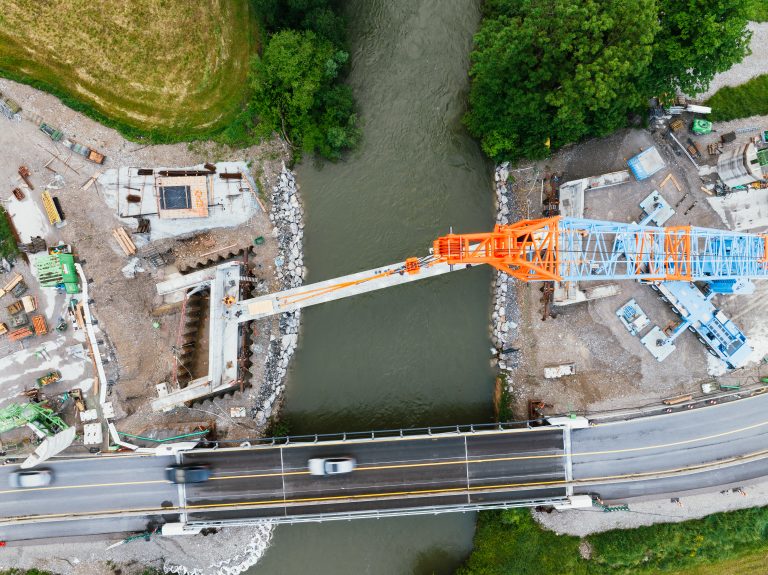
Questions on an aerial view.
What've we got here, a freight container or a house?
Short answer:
freight container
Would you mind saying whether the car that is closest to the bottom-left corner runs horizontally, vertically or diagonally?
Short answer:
horizontally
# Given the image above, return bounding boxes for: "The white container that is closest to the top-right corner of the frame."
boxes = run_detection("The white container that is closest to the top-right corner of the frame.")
[618,146,665,184]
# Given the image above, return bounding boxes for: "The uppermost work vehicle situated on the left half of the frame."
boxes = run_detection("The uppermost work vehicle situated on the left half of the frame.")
[68,382,92,418]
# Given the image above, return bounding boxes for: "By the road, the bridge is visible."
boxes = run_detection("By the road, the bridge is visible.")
[160,416,593,534]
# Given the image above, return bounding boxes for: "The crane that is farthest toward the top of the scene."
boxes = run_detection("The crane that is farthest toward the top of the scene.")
[404,205,768,370]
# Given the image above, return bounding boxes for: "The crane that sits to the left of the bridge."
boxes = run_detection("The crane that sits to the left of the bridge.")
[0,394,88,469]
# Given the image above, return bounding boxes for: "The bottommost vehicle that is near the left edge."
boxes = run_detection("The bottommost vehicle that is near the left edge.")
[10,466,56,492]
